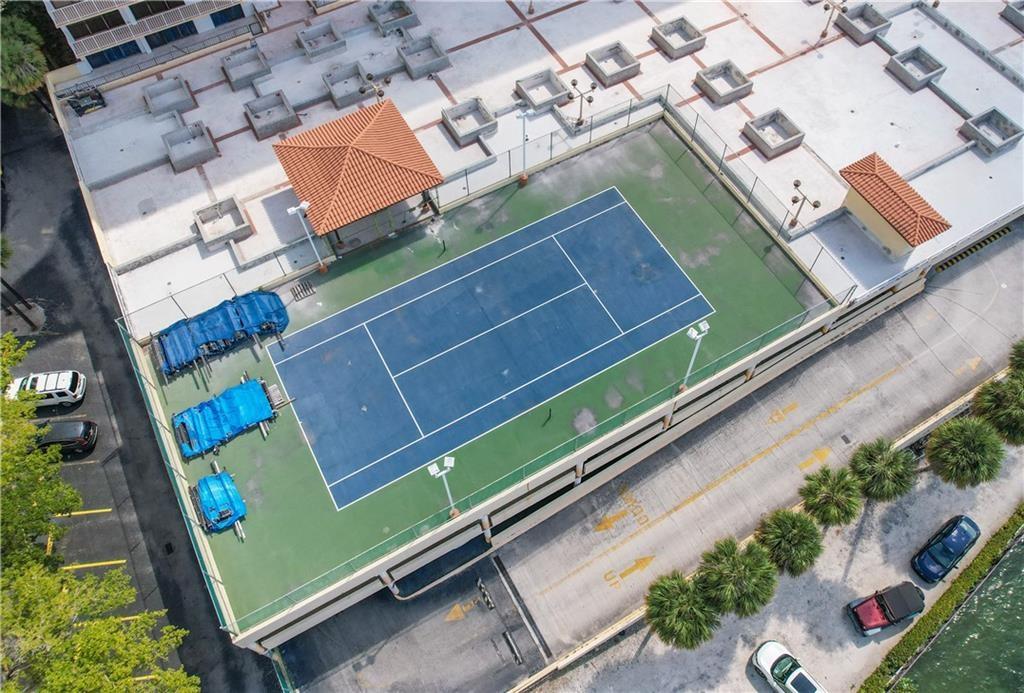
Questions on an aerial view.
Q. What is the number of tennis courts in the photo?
1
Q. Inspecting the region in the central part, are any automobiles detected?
No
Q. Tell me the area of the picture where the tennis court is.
center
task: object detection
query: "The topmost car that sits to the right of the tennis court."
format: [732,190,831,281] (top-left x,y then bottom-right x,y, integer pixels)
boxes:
[909,512,983,588]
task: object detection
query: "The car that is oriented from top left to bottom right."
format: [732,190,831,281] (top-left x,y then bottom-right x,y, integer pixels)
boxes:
[748,641,828,693]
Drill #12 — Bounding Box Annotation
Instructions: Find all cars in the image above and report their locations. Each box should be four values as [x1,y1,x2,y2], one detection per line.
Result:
[844,580,930,636]
[748,641,828,693]
[909,512,983,588]
[29,424,99,460]
[5,377,88,416]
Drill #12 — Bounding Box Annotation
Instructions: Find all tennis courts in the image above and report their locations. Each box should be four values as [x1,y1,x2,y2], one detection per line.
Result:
[153,119,838,629]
